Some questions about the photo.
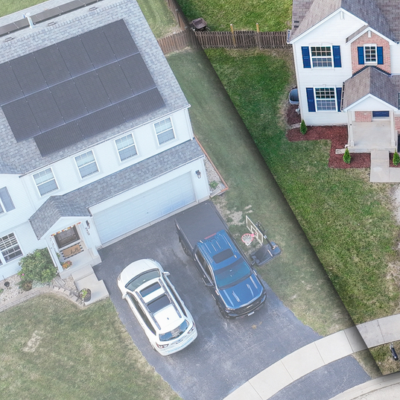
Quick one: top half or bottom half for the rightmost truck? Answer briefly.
bottom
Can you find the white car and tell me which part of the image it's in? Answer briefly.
bottom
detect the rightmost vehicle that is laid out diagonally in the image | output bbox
[176,204,267,323]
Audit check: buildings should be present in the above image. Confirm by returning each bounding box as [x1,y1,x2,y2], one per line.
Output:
[289,0,400,166]
[0,0,225,302]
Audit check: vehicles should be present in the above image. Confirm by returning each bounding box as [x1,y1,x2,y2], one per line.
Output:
[125,257,198,360]
[176,204,267,323]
